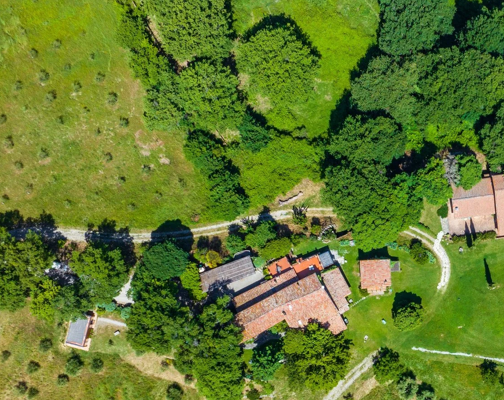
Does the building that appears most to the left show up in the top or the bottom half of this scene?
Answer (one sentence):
You can find the building that appears most to the left in the bottom half.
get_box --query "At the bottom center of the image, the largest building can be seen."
[234,253,352,347]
